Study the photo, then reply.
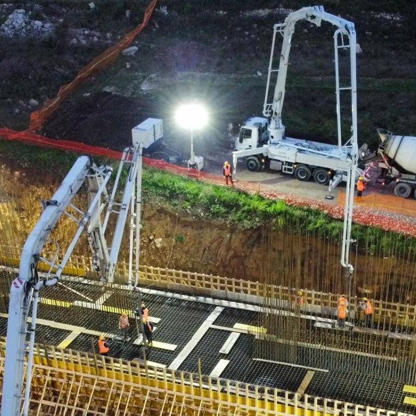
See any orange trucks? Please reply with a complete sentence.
No, there appears to be no orange truck in this shot.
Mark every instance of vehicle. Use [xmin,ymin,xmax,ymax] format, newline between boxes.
[230,5,365,321]
[366,126,416,196]
[2,142,148,416]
